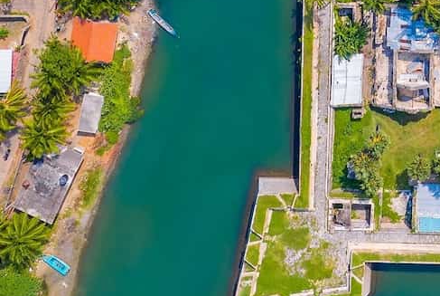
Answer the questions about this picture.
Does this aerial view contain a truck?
No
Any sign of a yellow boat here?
No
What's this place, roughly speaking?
residential area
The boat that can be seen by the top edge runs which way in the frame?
on a diagonal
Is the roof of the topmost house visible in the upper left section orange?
Yes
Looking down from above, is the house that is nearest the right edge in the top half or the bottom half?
bottom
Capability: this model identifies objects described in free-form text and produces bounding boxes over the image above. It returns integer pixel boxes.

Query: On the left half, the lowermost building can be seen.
[14,149,86,224]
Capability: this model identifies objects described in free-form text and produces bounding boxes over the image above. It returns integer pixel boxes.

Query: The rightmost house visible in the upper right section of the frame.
[372,7,440,116]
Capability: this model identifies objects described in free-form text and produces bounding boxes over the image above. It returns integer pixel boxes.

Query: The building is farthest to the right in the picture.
[416,180,440,231]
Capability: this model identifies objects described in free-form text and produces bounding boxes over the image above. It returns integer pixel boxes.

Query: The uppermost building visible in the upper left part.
[72,17,120,63]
